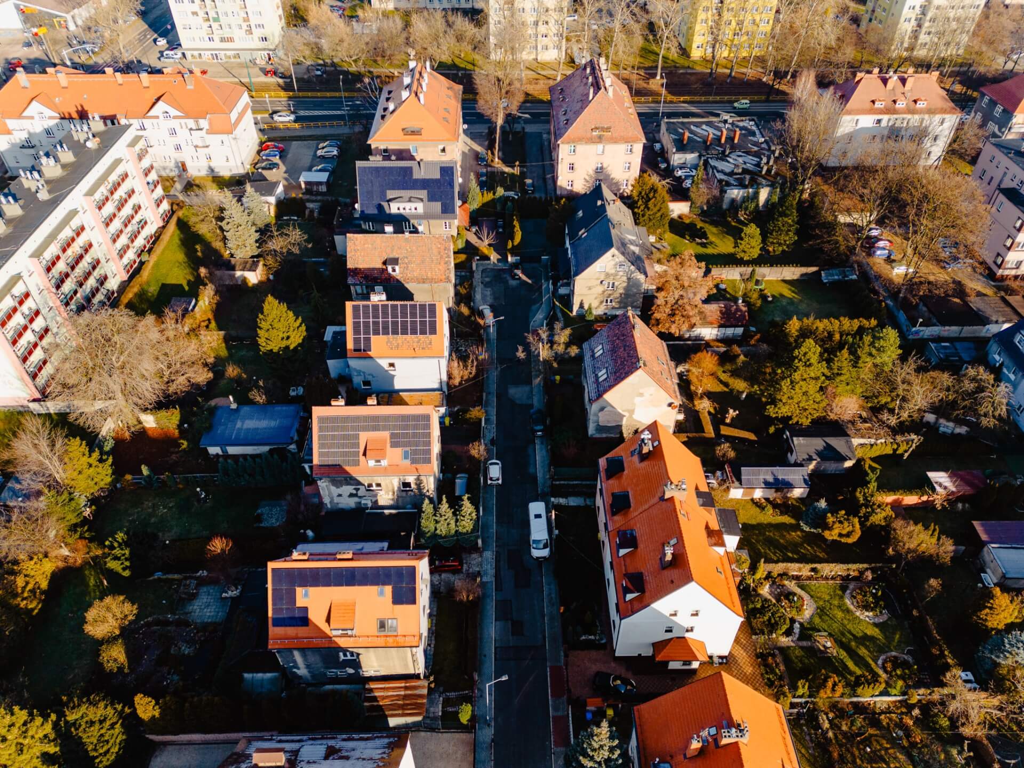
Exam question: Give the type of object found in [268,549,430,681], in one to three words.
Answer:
house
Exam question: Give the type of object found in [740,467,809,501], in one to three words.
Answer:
shed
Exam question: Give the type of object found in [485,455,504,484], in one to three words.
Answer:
car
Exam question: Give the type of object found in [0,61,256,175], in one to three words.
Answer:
building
